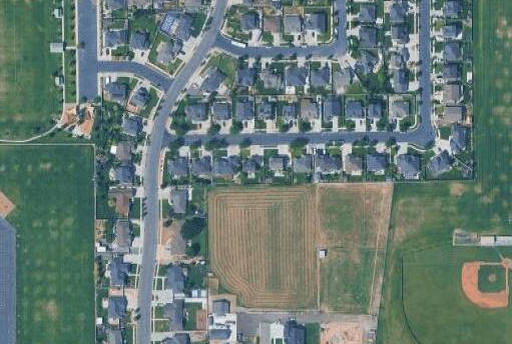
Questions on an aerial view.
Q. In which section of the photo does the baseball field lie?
bottom right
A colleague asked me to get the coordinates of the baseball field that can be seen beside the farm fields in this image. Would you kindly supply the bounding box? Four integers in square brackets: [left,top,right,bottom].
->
[402,246,512,344]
